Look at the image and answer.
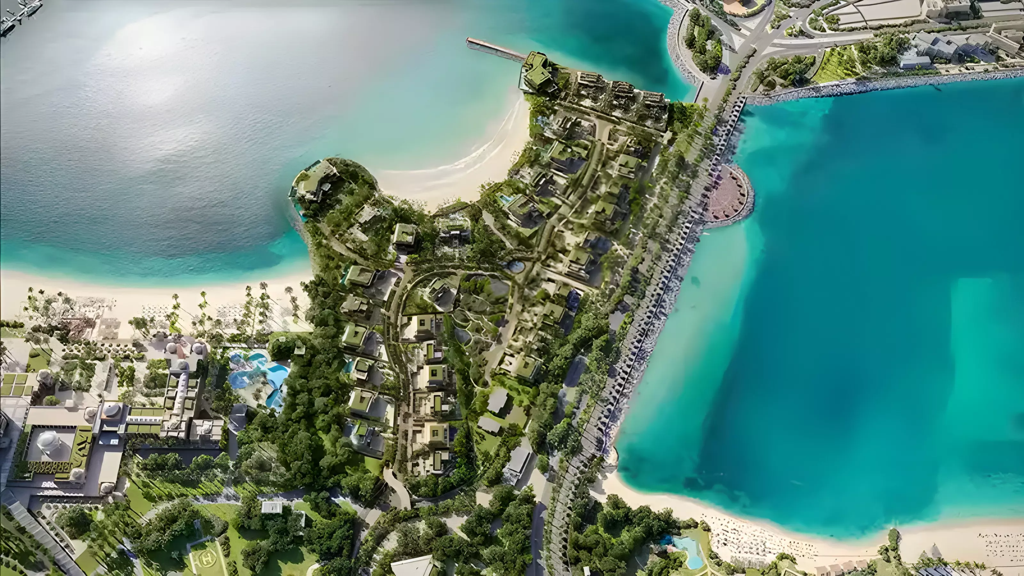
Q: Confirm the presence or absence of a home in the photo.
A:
Yes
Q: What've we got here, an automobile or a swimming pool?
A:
swimming pool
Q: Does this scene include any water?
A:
Yes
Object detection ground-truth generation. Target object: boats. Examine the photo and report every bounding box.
[0,23,16,39]
[25,2,43,18]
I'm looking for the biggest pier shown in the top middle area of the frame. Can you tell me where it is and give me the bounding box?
[468,37,525,64]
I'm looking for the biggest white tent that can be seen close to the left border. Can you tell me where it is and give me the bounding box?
[37,432,60,452]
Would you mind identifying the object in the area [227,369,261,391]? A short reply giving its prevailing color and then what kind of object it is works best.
blue swimming pool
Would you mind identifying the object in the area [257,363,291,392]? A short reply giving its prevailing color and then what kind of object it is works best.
blue swimming pool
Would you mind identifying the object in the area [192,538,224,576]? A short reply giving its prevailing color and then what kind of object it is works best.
yellow helipad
